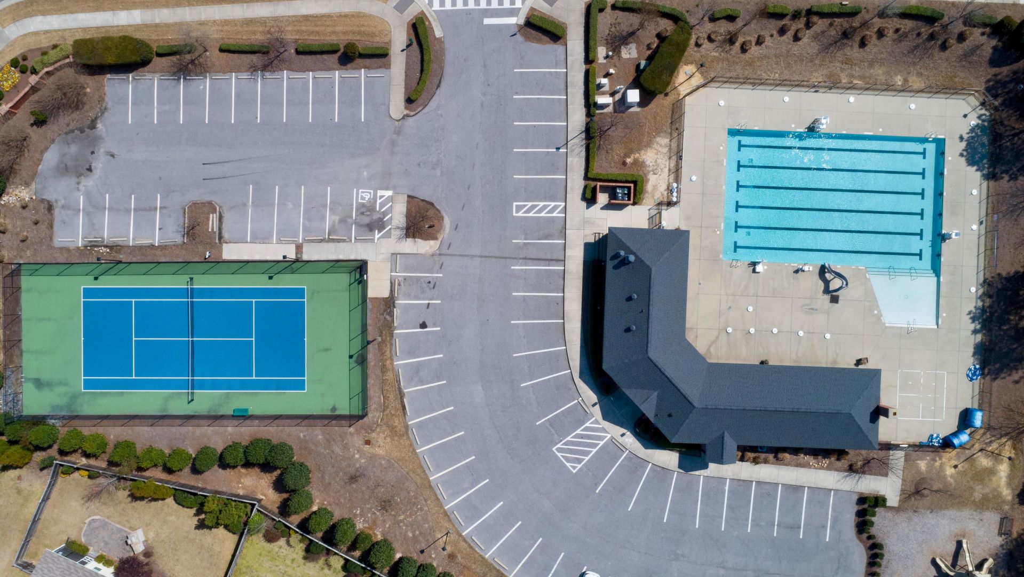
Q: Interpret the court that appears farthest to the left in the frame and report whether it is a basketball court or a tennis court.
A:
tennis court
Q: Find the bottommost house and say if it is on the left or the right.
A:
left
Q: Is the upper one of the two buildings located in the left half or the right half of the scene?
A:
right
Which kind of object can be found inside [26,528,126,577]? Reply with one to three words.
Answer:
house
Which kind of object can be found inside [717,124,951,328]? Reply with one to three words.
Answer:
swimming pool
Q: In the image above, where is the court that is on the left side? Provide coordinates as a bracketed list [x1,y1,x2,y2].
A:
[21,263,367,415]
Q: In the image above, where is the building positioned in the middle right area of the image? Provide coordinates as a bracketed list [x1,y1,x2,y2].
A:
[602,226,897,464]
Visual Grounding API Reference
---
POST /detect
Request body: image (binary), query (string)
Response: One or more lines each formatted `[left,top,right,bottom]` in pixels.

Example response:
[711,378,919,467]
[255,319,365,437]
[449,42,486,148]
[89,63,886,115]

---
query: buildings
[26,528,126,577]
[602,226,897,464]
